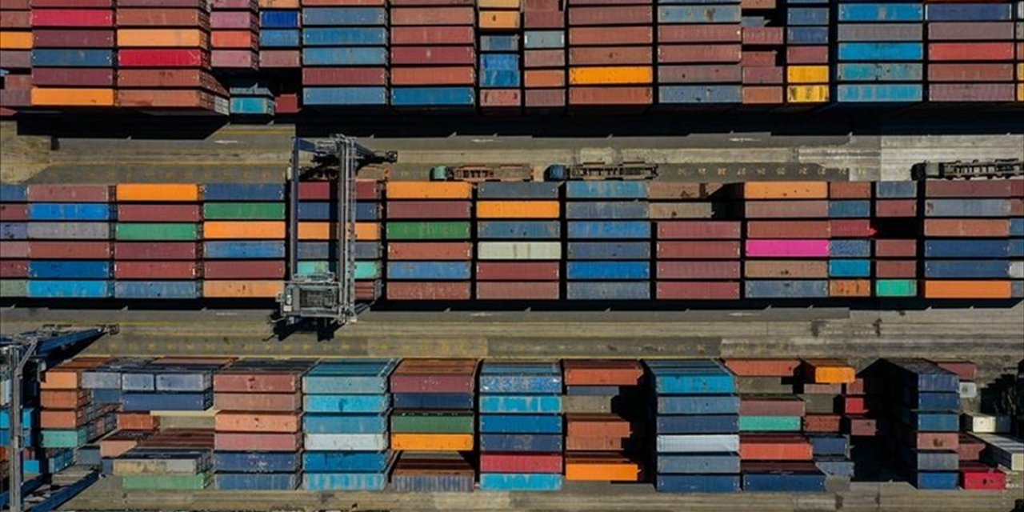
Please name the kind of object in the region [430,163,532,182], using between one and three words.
vehicle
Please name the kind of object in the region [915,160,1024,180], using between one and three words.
vehicle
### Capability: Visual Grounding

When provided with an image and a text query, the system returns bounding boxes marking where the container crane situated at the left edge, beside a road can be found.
[0,322,120,512]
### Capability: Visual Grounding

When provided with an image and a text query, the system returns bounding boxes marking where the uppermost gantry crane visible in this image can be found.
[274,125,390,329]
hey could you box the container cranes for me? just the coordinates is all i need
[274,125,390,329]
[0,322,120,512]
